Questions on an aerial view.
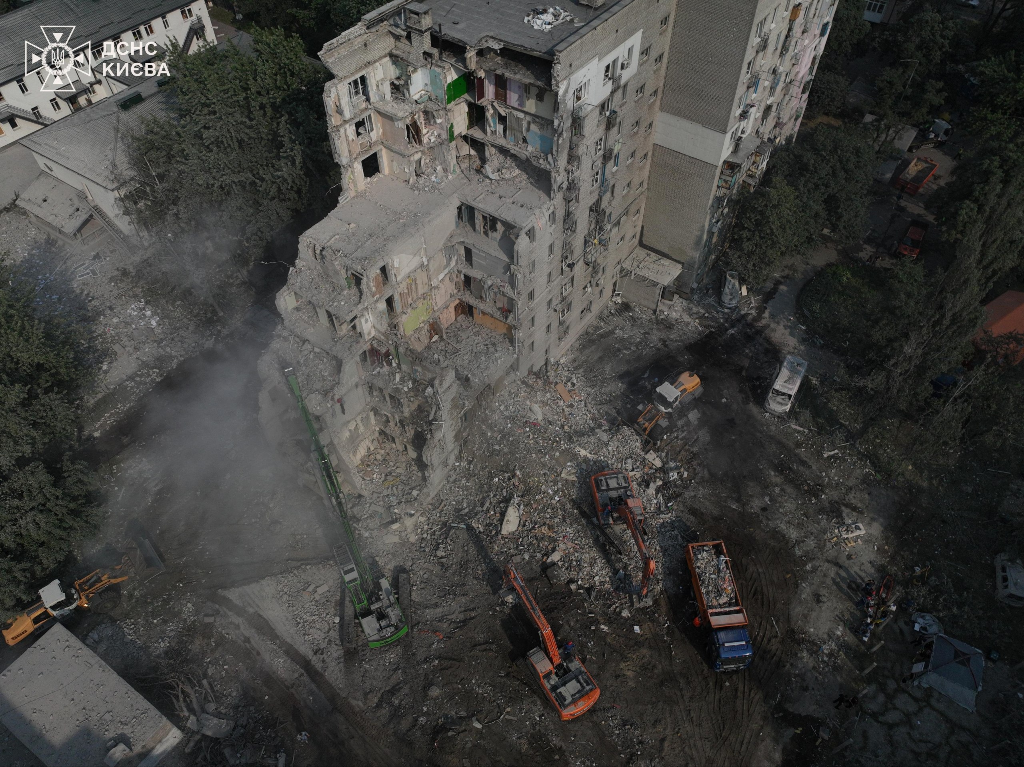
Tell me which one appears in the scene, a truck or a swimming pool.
truck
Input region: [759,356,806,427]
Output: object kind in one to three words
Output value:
van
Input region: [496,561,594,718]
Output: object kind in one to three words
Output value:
work vehicle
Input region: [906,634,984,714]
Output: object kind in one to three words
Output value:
tent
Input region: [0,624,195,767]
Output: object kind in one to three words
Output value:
shed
